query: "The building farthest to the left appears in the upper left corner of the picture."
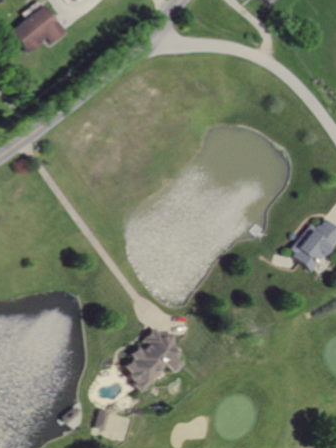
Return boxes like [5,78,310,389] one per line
[14,1,67,52]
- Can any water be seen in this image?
Yes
